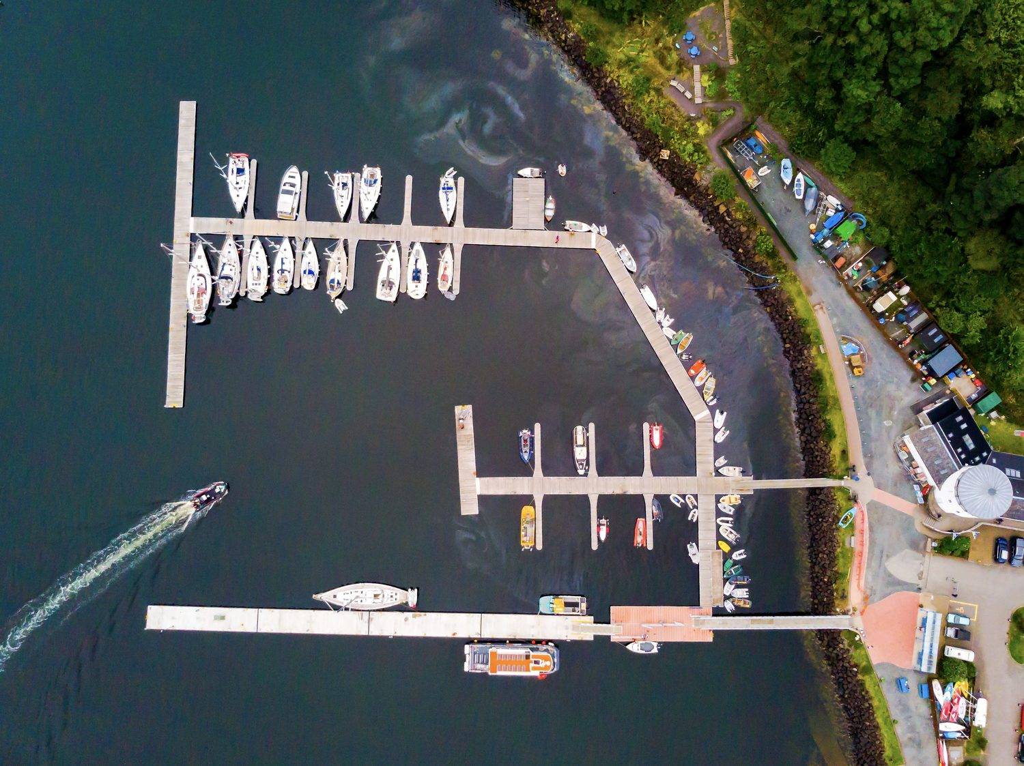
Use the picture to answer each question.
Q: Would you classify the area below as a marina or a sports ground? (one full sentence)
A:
It's a marina.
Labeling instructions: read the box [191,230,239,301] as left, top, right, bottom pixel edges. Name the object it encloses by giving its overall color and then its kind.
white boat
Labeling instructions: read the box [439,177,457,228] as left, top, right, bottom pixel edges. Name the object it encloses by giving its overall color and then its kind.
white boat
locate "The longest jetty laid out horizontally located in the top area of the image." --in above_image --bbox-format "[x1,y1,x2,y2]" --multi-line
[190,160,595,296]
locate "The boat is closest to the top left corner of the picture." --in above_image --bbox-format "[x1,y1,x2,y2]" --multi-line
[205,151,252,217]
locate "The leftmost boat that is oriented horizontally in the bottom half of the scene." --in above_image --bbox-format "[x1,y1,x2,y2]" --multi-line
[309,582,409,612]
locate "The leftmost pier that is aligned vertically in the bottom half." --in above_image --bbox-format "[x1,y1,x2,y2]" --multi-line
[455,405,479,515]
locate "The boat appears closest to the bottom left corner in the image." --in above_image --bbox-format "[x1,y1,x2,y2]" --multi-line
[191,483,230,513]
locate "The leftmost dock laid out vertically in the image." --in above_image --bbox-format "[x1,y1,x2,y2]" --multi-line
[164,101,197,407]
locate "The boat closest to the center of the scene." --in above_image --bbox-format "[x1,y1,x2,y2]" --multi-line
[519,428,533,463]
